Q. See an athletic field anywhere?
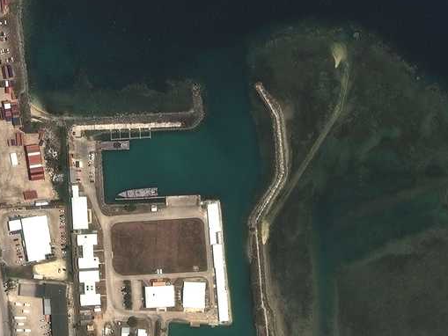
Yes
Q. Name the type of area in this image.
port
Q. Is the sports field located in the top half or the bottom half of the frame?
bottom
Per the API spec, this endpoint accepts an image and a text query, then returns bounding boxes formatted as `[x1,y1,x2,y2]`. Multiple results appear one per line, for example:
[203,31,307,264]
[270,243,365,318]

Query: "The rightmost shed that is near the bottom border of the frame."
[214,245,229,323]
